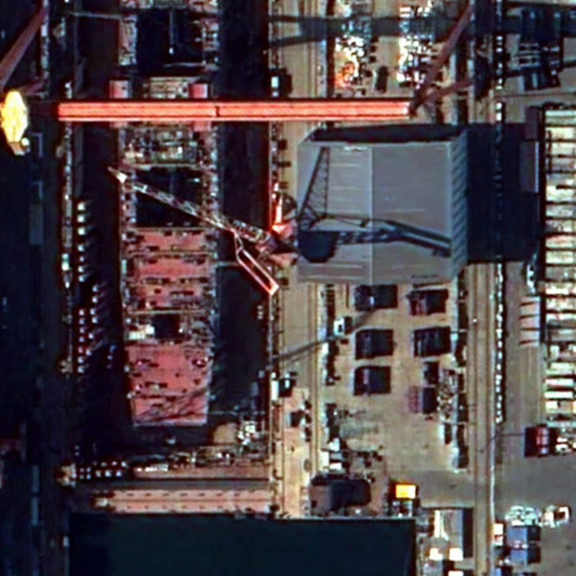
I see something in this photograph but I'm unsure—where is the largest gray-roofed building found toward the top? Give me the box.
[297,129,467,284]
